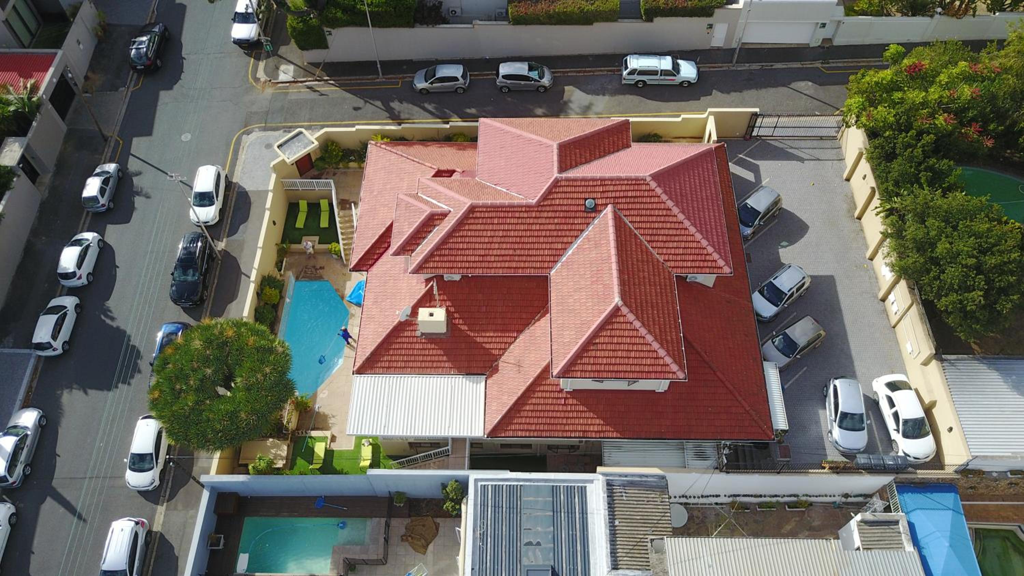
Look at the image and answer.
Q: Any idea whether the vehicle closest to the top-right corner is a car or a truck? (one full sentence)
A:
Looking closely, the vehicle closest to the top-right corner is a car.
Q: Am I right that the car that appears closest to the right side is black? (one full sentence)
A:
No, the car that appears closest to the right side is white.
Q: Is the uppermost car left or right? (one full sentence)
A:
You can find the uppermost car on the left side of the picture.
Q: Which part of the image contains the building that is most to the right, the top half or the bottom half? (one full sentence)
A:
The building that is most to the right is in the bottom half of the image.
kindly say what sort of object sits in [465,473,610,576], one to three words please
building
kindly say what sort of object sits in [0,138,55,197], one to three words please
building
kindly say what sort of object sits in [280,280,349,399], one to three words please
swimming pool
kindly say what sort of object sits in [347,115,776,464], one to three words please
house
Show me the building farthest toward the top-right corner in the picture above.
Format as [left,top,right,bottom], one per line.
[741,0,842,46]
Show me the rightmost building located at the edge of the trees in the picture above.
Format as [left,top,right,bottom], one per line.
[939,354,1024,473]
